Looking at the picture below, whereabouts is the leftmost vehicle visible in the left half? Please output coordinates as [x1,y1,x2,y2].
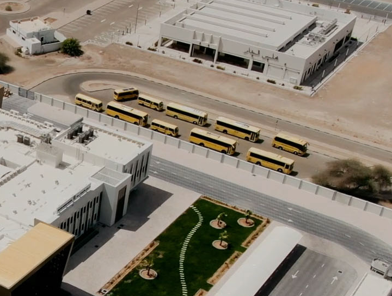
[77,93,105,110]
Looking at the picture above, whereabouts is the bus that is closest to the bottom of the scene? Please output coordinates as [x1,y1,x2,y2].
[248,145,298,172]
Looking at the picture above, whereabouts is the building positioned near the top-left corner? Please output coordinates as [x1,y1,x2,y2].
[7,14,60,54]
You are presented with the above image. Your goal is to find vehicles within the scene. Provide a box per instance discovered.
[215,115,263,141]
[119,87,149,99]
[191,127,240,153]
[167,101,211,125]
[150,116,182,135]
[248,145,298,172]
[77,93,105,110]
[107,101,151,125]
[138,93,165,109]
[272,132,312,155]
